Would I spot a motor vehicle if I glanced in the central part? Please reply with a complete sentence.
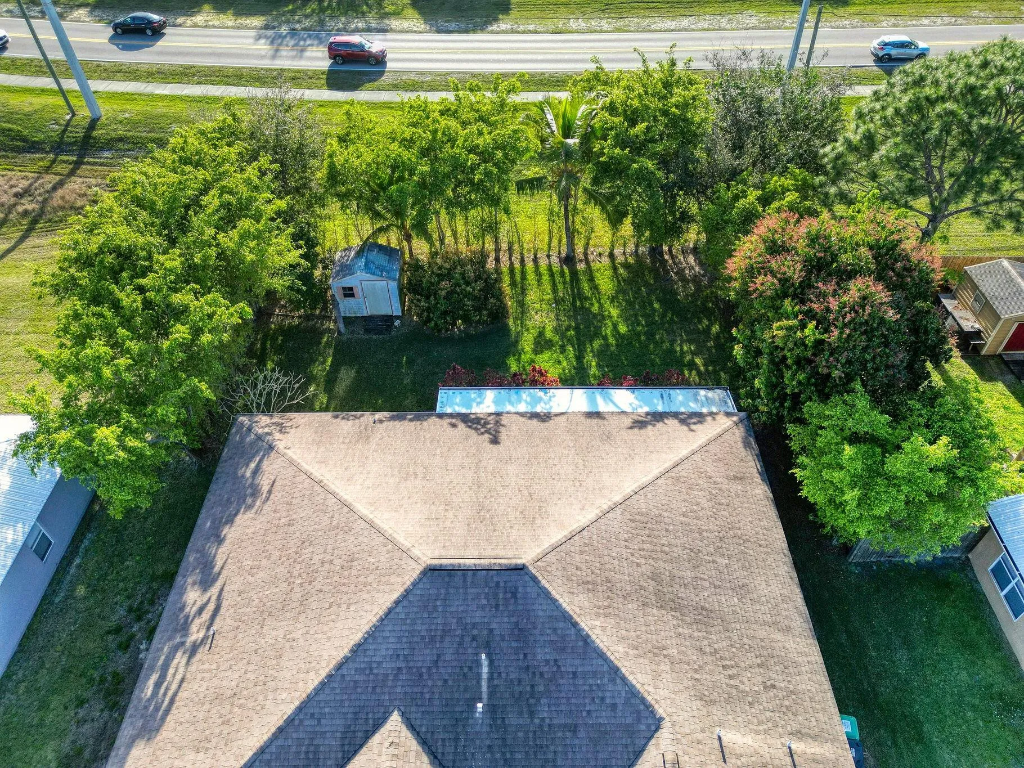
No, I can find no motor vehicle in the central part.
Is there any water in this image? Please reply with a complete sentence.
No, there is no water in the image.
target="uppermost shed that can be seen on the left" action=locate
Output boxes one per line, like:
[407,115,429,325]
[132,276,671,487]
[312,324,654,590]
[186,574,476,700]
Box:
[331,239,406,321]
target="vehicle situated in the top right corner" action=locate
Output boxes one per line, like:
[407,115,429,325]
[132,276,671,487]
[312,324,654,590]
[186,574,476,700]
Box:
[868,31,929,59]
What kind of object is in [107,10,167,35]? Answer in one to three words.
car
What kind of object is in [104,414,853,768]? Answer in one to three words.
house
